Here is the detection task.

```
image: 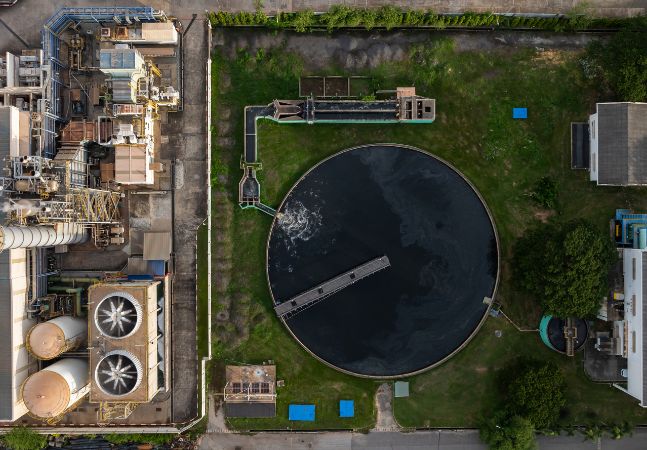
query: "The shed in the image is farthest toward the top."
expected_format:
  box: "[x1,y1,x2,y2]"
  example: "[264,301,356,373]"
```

[140,22,181,49]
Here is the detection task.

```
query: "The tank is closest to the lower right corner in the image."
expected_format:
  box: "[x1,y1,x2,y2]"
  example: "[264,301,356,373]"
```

[539,310,589,356]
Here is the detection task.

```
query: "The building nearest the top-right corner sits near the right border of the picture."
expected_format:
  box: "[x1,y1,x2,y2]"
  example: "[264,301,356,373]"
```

[587,100,647,185]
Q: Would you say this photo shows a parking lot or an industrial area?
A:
industrial area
